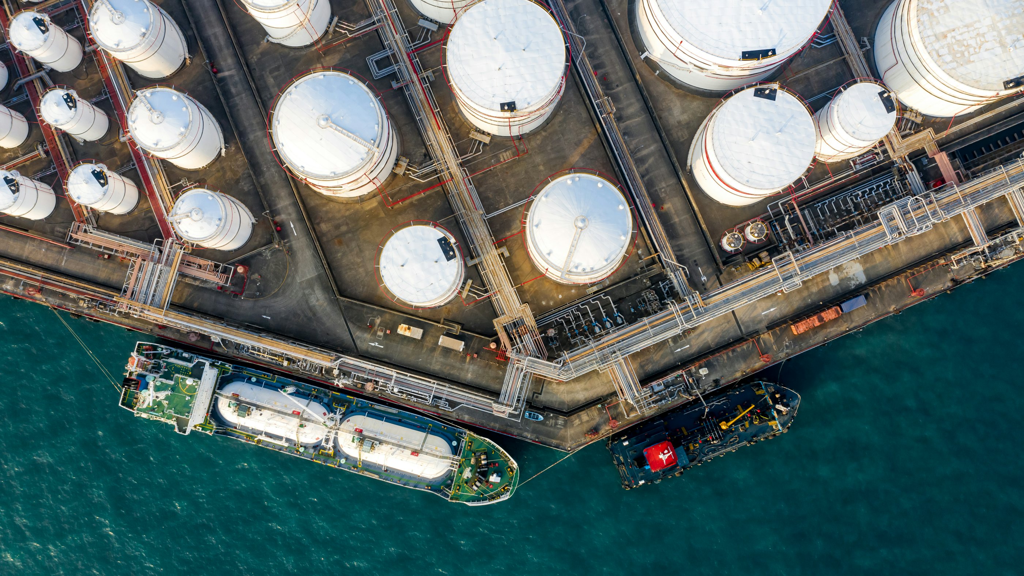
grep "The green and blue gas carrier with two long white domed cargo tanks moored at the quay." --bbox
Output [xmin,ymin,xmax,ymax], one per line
[116,341,520,506]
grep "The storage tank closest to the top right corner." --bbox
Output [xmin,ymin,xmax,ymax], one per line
[869,0,1024,133]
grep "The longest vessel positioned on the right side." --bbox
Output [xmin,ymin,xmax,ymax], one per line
[605,381,802,491]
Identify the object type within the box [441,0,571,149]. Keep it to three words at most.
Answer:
storage tank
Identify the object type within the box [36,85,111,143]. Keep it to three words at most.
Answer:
storage tank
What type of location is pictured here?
industrial area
